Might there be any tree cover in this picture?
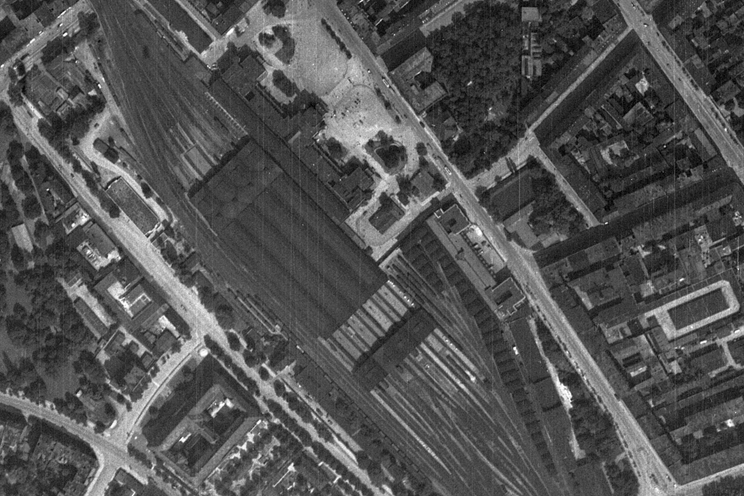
Yes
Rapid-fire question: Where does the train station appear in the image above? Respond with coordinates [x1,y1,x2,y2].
[157,31,513,474]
